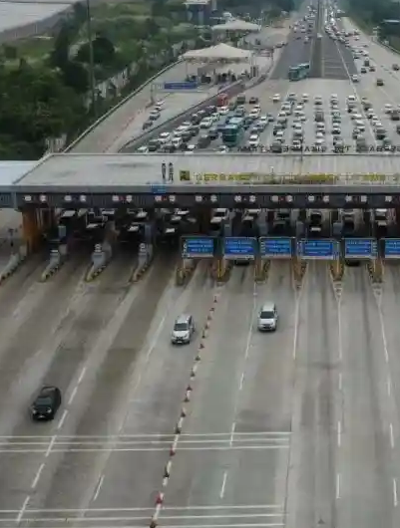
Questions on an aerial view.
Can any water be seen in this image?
No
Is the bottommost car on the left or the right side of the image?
left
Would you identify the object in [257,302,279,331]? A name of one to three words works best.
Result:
car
